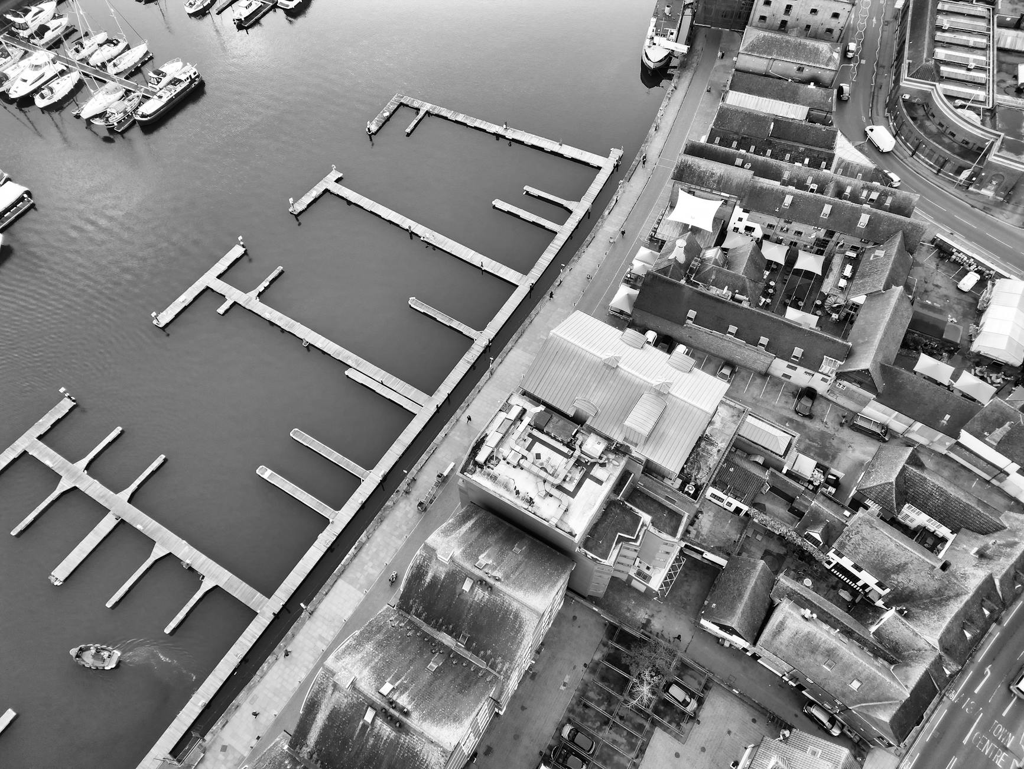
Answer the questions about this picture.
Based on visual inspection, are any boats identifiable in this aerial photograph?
Yes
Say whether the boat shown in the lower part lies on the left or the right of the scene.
left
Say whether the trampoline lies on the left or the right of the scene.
right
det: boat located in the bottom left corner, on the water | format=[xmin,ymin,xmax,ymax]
[68,640,125,669]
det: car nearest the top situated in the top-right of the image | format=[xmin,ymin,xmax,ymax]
[844,45,857,60]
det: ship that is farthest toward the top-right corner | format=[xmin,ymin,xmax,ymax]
[643,0,681,75]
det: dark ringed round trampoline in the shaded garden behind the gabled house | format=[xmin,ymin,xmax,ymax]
[763,550,784,571]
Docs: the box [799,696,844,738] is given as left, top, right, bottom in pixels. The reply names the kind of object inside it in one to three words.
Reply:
car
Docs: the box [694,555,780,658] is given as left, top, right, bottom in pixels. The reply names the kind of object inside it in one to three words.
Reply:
house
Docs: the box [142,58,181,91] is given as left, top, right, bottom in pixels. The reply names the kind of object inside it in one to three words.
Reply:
boat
